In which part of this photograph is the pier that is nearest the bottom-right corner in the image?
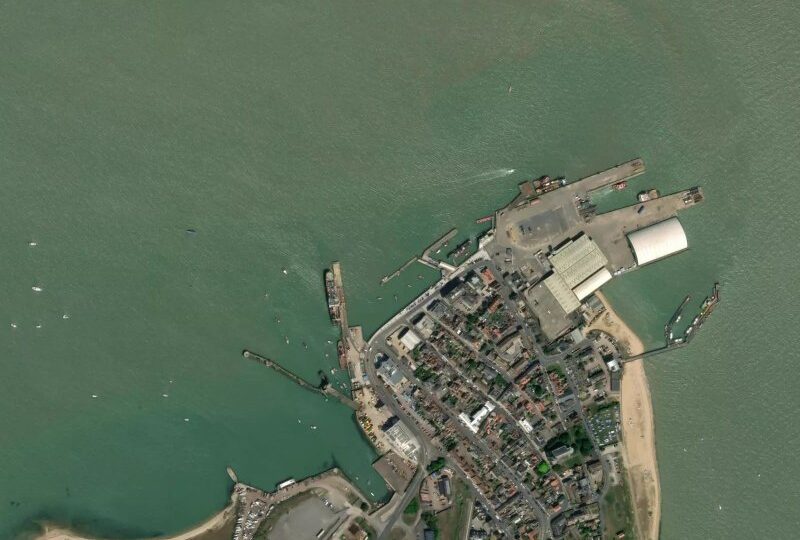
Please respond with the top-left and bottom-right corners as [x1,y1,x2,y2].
[620,284,720,365]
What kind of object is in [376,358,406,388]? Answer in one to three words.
building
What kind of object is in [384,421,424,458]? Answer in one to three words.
building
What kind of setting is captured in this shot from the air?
port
